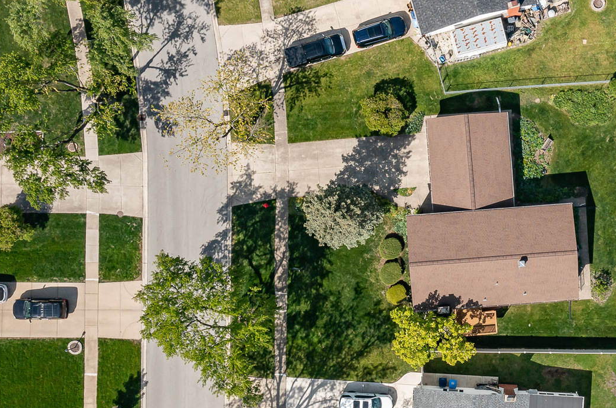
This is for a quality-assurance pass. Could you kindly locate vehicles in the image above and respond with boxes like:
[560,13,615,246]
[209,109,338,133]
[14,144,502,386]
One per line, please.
[338,391,394,408]
[351,17,408,50]
[281,32,347,66]
[0,283,9,304]
[12,296,69,323]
